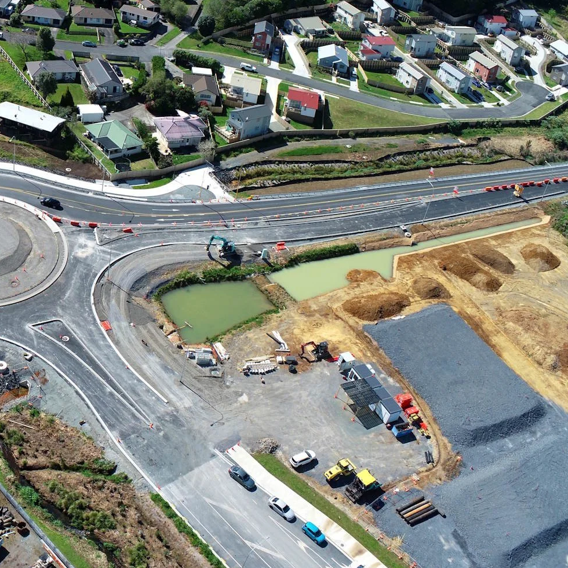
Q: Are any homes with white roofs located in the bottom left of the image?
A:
No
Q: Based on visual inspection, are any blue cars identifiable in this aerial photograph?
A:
Yes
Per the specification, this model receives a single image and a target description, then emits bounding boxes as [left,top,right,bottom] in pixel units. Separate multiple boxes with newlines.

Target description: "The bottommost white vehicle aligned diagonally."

[266,493,299,524]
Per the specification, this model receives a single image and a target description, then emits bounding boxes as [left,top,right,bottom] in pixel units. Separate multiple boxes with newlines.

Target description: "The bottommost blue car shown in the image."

[299,518,329,548]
